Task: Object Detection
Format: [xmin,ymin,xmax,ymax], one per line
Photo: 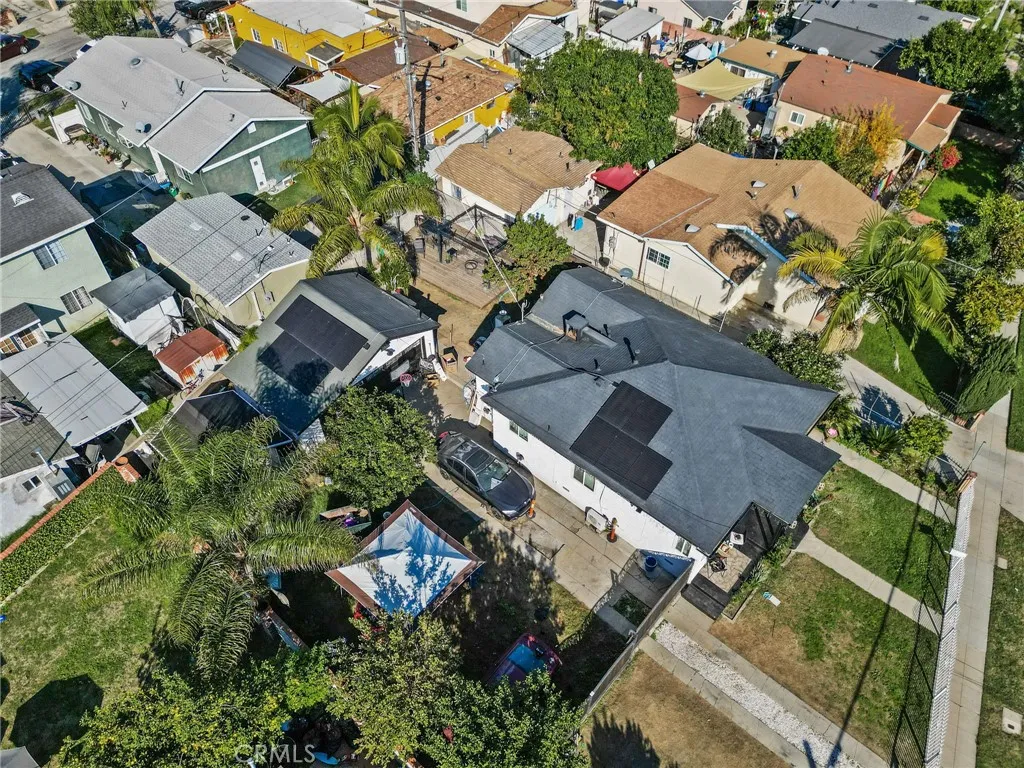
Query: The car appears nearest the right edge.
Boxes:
[432,431,539,522]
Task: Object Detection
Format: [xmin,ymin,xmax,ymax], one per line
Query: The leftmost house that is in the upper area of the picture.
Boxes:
[0,142,111,361]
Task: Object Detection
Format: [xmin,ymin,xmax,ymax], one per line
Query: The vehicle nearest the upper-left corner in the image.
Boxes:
[0,30,36,56]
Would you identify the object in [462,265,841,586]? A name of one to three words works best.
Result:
house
